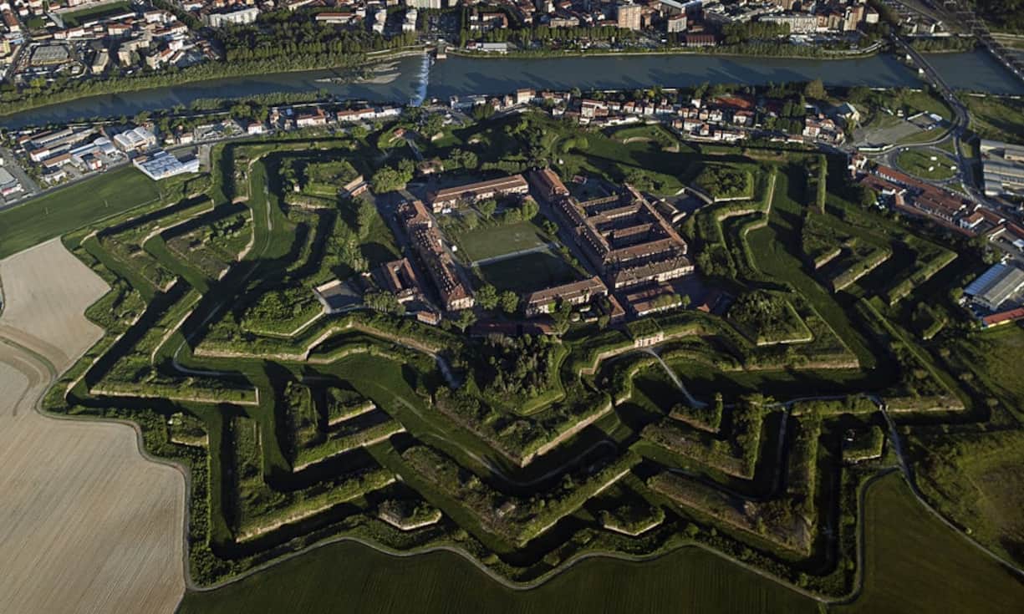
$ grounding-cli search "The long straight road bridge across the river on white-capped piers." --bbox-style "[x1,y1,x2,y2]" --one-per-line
[881,29,951,95]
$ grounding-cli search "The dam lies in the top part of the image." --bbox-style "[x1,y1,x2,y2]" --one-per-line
[405,57,432,107]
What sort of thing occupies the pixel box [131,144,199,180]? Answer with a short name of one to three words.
building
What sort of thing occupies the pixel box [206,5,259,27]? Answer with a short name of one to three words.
building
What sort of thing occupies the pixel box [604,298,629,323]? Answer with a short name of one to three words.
shed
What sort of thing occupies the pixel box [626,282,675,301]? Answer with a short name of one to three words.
shed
